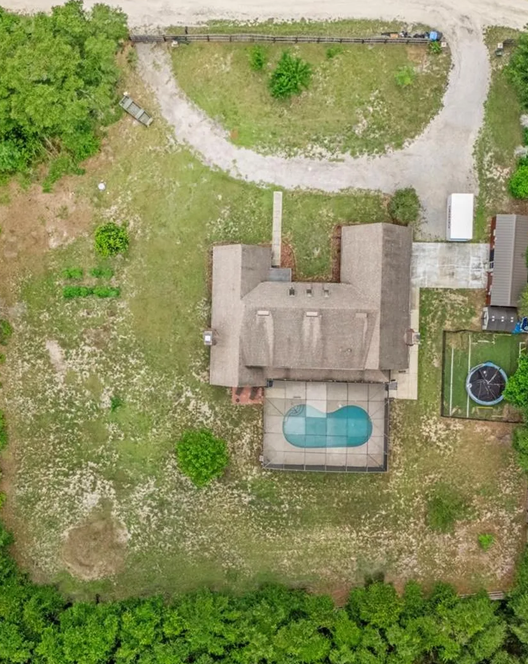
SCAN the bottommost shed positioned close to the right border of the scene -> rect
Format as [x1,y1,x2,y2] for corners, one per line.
[483,307,522,332]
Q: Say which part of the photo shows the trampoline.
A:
right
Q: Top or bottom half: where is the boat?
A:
top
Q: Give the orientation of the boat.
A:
on a diagonal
